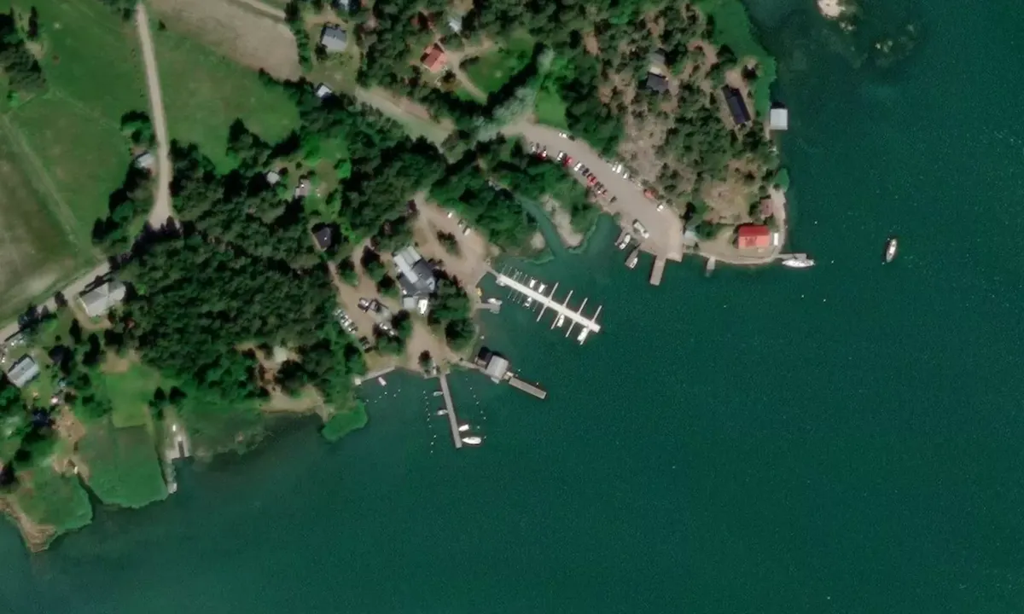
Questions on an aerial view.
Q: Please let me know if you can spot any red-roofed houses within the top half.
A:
Yes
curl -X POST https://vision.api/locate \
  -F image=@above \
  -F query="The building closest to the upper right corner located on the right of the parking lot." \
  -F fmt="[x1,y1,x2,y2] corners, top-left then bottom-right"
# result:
[770,109,787,130]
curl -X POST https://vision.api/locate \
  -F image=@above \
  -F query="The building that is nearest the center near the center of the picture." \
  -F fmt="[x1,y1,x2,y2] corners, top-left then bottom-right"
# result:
[475,351,510,382]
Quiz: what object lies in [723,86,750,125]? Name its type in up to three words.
house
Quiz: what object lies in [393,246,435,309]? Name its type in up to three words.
building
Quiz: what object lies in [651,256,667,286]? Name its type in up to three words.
pier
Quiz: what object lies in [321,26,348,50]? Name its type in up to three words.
house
